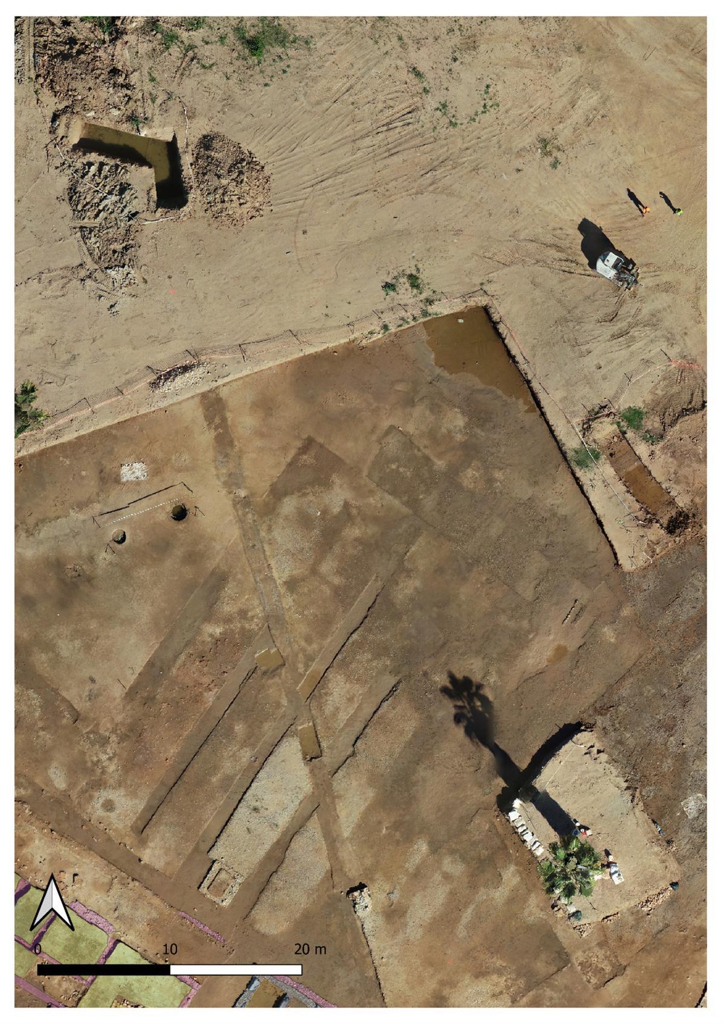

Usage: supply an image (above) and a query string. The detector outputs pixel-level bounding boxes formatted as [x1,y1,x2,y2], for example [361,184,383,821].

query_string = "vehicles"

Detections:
[594,249,638,289]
